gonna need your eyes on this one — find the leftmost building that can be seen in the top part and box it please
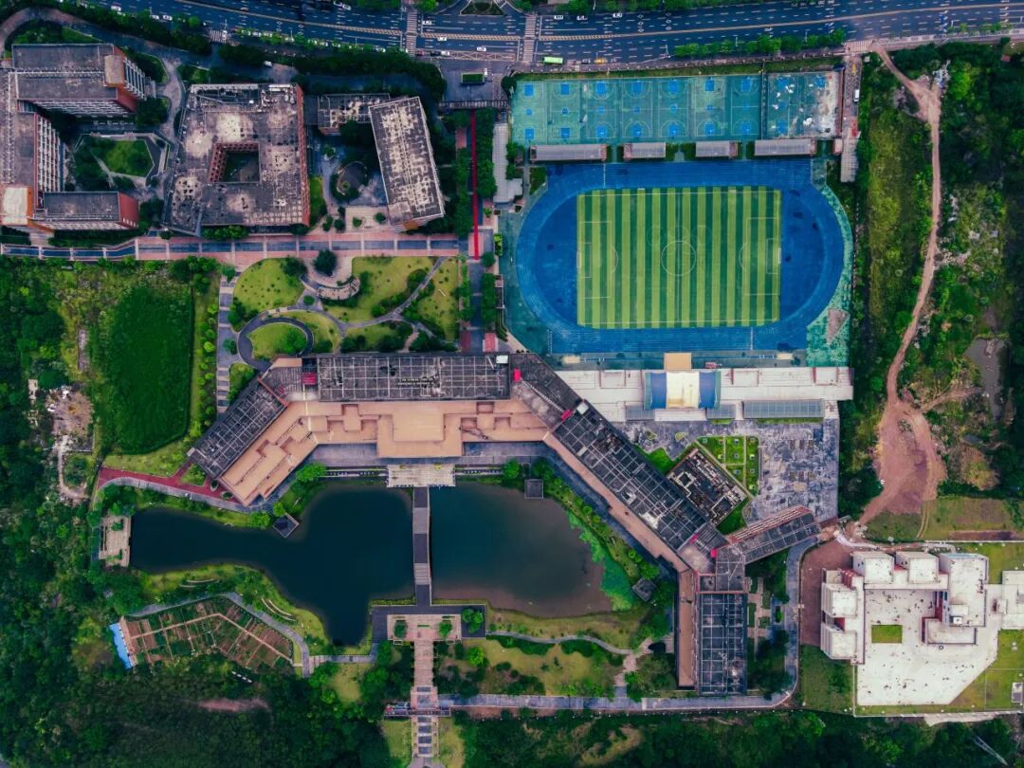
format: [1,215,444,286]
[0,43,154,236]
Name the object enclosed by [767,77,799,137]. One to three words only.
basketball court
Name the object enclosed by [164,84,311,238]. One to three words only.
building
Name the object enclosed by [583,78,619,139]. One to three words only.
basketball court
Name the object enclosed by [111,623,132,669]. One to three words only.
shed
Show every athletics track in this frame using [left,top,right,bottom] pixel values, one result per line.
[517,159,843,354]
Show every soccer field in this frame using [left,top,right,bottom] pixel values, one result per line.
[575,186,781,328]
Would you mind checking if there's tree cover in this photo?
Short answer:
Yes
